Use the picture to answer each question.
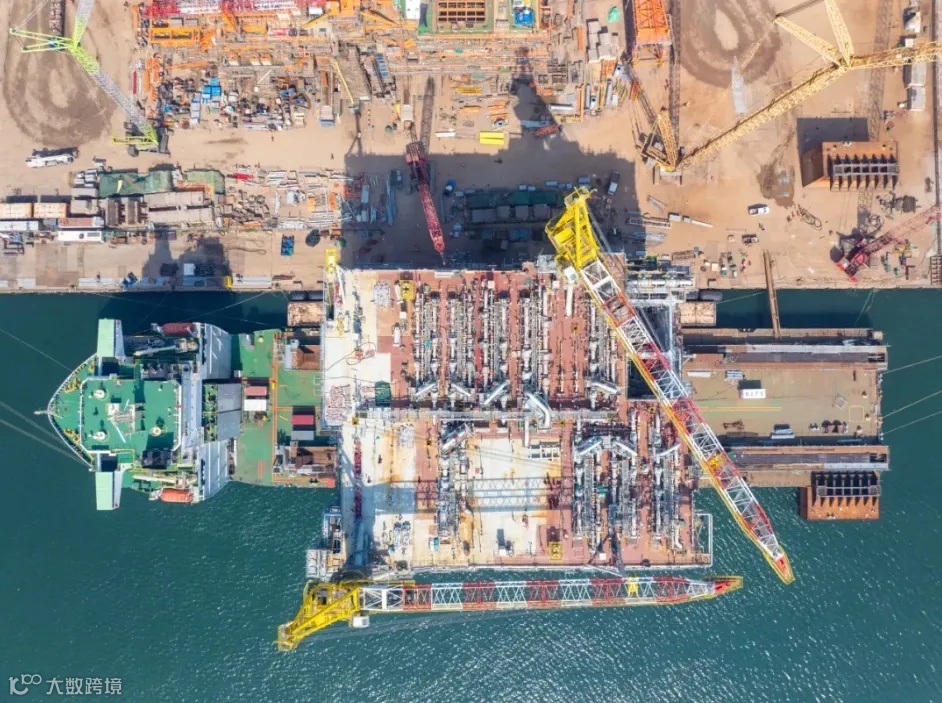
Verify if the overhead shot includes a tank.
Yes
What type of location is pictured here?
port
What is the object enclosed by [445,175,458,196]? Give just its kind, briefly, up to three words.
vehicle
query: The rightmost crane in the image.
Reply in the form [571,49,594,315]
[828,202,942,282]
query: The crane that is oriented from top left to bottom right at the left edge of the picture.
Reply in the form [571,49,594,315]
[8,0,167,170]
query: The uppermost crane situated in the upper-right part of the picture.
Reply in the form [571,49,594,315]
[632,0,942,188]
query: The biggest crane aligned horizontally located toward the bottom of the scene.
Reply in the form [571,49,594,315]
[274,569,748,661]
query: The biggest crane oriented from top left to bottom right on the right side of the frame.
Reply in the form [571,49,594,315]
[528,173,800,590]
